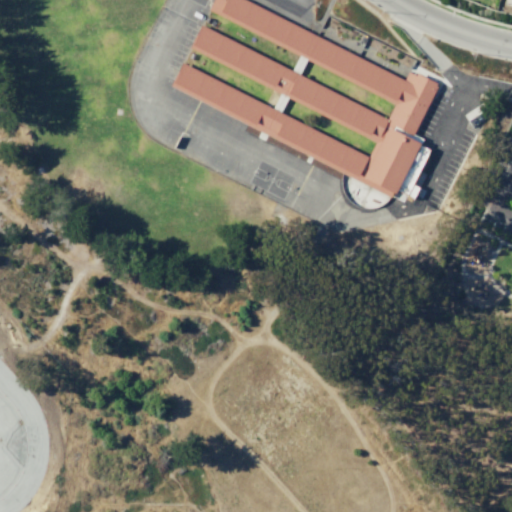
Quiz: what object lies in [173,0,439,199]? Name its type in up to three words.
building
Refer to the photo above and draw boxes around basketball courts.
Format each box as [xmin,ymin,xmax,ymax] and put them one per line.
[252,162,296,200]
